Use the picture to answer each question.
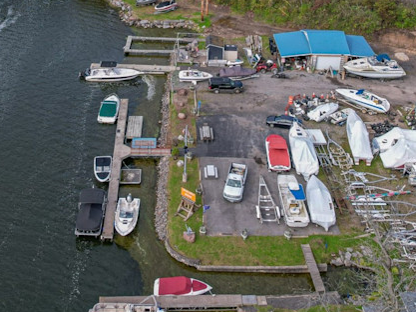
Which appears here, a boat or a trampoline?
boat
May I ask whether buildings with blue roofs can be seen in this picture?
Yes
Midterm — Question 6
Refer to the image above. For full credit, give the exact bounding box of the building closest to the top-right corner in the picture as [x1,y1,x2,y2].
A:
[272,30,376,72]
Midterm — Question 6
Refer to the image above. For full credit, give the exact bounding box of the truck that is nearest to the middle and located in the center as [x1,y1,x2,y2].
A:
[221,159,246,202]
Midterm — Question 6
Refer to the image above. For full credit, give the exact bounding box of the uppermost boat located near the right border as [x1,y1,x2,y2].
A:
[344,57,406,84]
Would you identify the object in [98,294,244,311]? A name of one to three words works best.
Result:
pier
